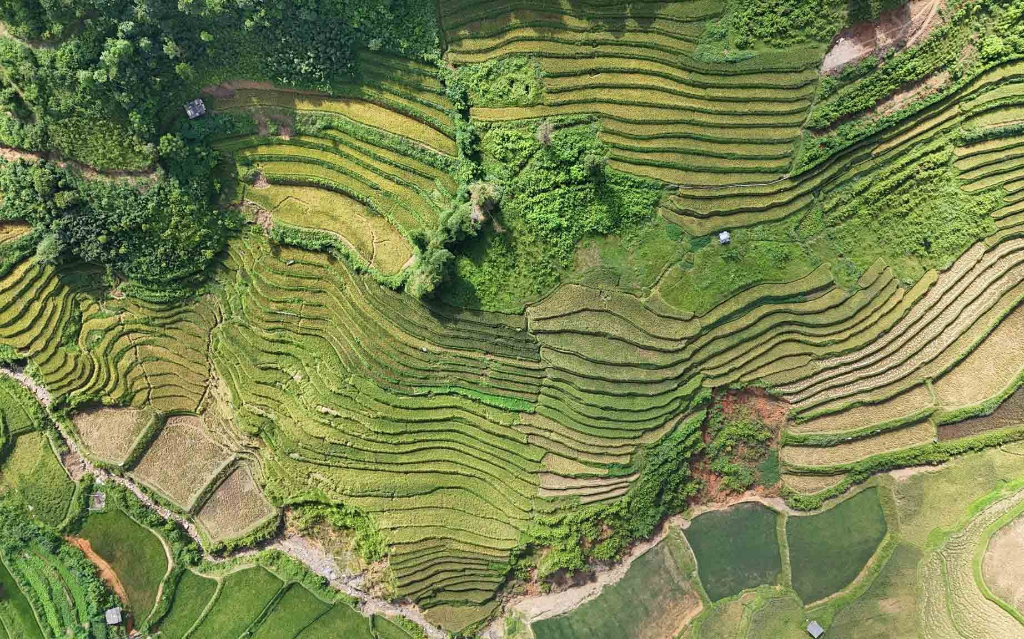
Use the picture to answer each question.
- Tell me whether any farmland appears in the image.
Yes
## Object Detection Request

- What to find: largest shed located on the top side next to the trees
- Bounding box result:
[183,97,209,120]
